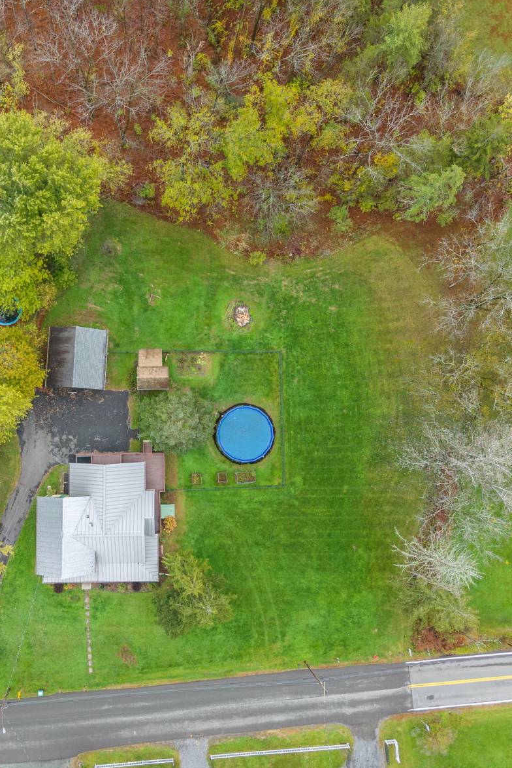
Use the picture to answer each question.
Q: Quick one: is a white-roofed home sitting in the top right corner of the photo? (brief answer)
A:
No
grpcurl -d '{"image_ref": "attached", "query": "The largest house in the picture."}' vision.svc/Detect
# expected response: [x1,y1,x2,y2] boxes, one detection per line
[37,461,159,591]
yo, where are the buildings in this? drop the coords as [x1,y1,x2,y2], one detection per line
[137,349,168,390]
[37,461,159,591]
[46,325,110,391]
